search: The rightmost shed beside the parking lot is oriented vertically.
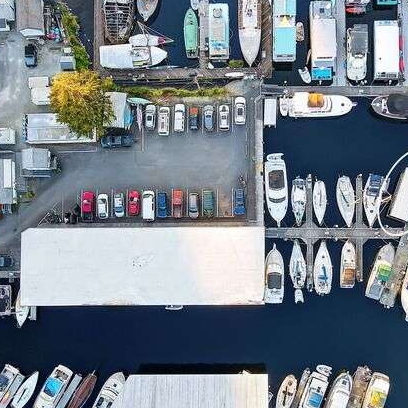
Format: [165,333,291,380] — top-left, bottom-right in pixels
[264,98,277,130]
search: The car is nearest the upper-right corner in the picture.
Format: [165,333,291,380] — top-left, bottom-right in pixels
[234,98,246,125]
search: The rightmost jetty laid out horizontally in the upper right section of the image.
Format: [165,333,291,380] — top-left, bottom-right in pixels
[278,79,408,95]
